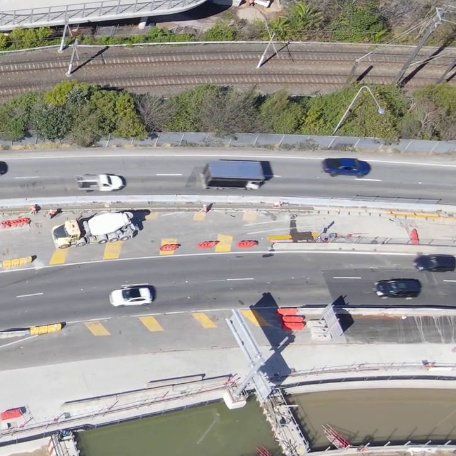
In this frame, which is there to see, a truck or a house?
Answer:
truck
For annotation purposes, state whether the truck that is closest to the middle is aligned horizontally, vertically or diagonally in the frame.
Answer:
horizontally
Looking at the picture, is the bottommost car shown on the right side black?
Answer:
Yes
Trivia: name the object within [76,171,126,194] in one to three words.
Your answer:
car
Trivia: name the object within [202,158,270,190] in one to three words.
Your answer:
truck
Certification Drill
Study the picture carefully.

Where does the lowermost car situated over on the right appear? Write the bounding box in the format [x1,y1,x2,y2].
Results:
[372,278,426,303]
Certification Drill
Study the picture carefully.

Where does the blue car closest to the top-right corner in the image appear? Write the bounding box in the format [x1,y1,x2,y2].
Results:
[321,156,373,178]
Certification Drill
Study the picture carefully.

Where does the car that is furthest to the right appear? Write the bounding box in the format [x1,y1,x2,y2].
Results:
[408,253,456,277]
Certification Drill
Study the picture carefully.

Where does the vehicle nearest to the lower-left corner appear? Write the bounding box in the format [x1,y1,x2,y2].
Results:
[107,284,158,311]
